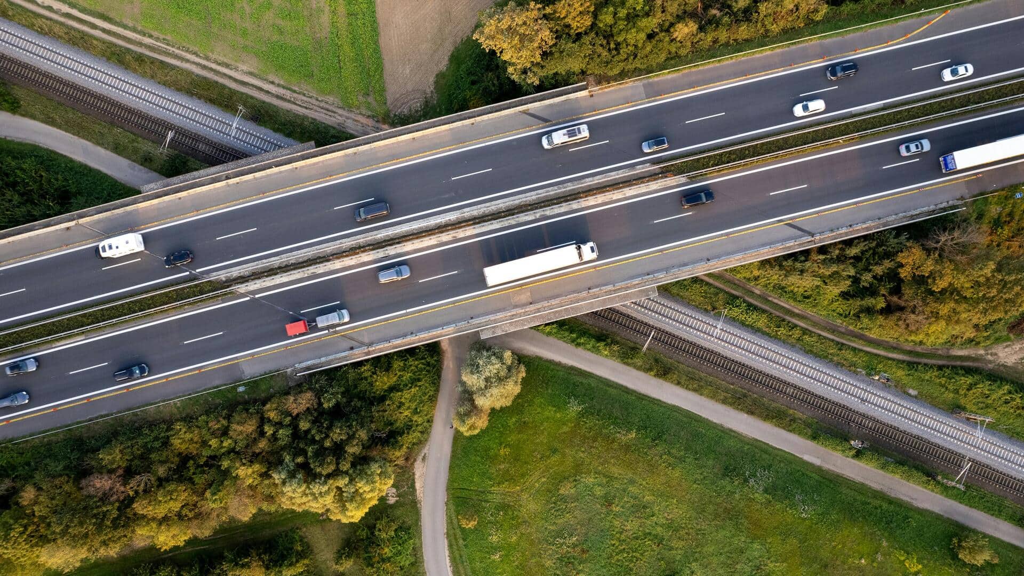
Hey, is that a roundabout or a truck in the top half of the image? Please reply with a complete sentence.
Looking in the top half of the image, you will find a truck.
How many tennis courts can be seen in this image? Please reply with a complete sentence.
There are no tennis courts in this view.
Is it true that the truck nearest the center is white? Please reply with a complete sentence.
Yes, the truck nearest the center is indeed white.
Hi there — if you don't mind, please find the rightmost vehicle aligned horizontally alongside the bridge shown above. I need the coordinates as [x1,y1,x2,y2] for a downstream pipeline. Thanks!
[940,136,1024,173]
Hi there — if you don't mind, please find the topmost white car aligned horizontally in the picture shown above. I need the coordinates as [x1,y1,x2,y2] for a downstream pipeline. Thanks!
[938,64,973,83]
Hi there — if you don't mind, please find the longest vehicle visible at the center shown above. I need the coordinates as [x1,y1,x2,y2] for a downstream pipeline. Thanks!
[483,240,598,286]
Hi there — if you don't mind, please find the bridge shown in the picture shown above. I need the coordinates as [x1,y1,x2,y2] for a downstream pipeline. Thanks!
[0,81,968,376]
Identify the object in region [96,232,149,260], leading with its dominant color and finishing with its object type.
white camper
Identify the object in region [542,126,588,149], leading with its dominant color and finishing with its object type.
white vehicle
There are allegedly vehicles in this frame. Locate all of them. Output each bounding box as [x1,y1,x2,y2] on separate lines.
[316,309,351,328]
[940,136,1024,173]
[824,62,859,81]
[0,390,31,409]
[791,100,824,118]
[483,240,598,286]
[897,138,929,156]
[542,126,588,149]
[378,264,411,283]
[96,232,149,260]
[641,136,669,153]
[114,363,149,382]
[681,190,714,208]
[5,357,40,376]
[938,64,973,83]
[164,250,195,267]
[355,202,390,221]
